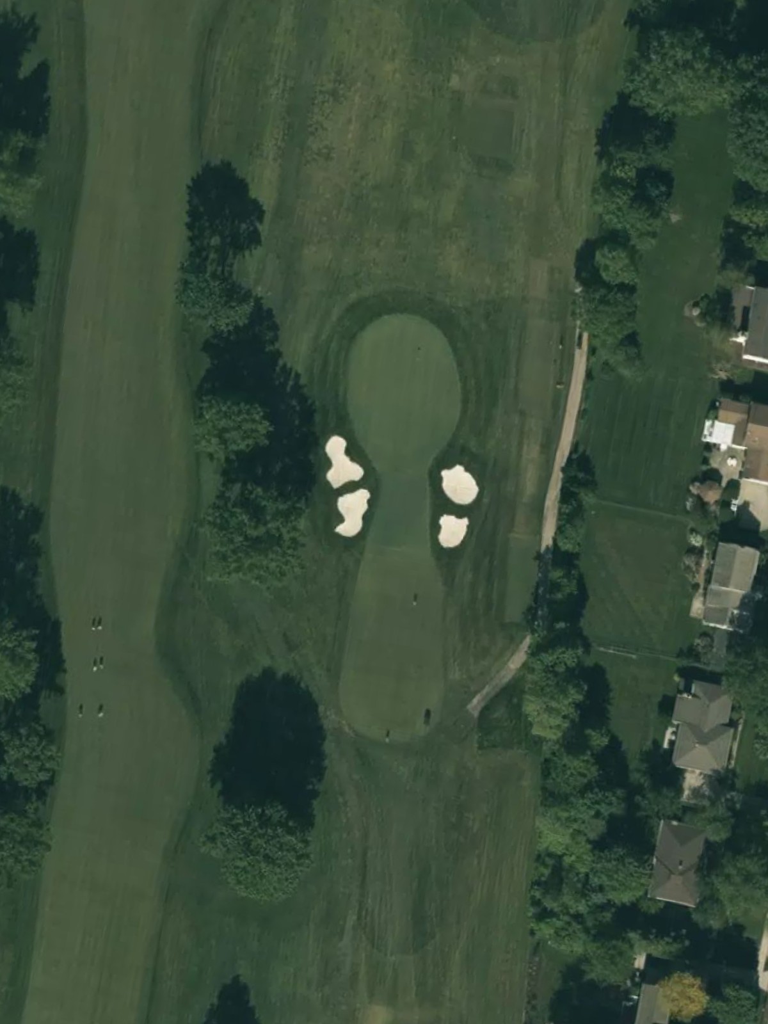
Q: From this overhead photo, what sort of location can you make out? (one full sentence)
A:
The area seen from above is a golf course.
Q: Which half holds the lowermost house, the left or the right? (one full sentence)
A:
The lowermost house is on the right side of the image.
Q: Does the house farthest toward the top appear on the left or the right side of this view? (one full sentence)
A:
The house farthest toward the top is on the right side of the image.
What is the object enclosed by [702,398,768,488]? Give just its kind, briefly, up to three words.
house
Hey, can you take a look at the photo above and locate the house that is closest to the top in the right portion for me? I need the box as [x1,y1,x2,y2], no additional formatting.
[727,288,768,366]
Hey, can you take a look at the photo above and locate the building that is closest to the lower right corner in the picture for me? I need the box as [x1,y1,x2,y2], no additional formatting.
[634,981,668,1024]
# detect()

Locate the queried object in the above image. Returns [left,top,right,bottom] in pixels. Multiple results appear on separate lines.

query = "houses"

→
[700,541,761,633]
[670,679,736,776]
[702,398,768,488]
[727,288,768,366]
[648,819,706,908]
[634,981,668,1024]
